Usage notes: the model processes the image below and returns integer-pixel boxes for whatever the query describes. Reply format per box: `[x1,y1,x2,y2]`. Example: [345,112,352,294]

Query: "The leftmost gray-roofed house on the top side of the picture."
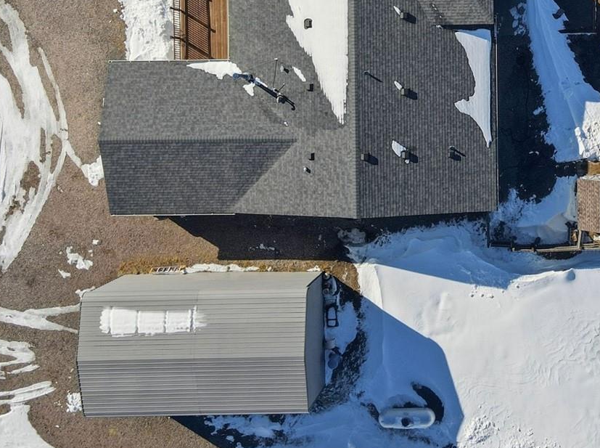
[99,0,500,219]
